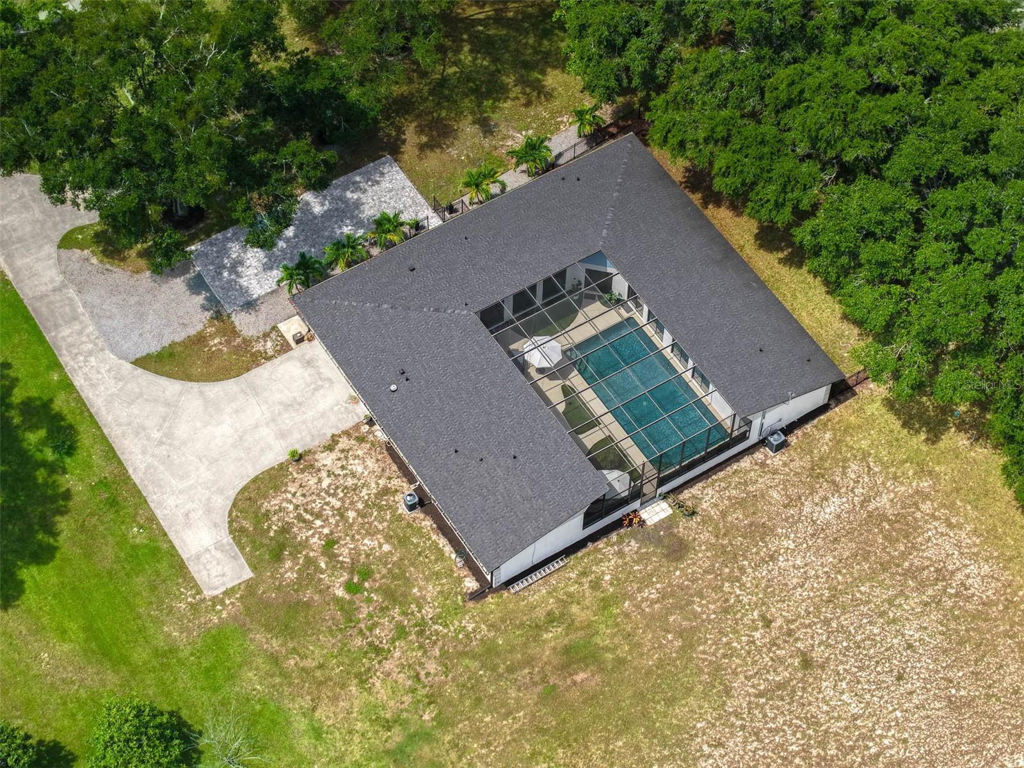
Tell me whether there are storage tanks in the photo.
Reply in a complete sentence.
No, this view has no storage tank in it.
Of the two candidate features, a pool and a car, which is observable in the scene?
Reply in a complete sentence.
I can see a pool in this picture.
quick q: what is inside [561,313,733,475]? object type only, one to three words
swimming pool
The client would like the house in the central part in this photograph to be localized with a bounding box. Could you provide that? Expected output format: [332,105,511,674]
[287,133,845,590]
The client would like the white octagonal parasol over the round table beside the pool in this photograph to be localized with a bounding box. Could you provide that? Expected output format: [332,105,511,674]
[522,337,563,372]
